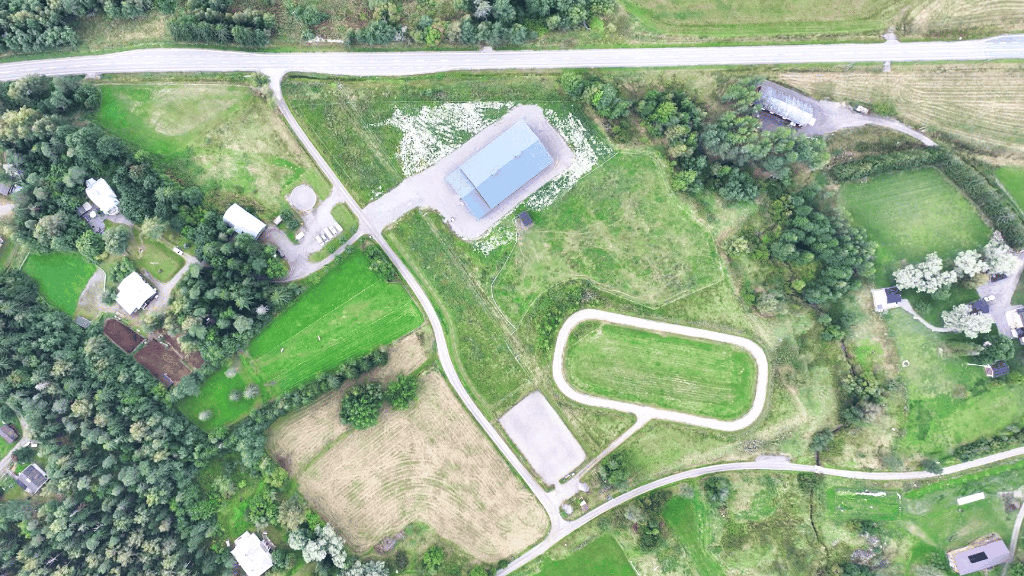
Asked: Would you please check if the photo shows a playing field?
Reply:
Yes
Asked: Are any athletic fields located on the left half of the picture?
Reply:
No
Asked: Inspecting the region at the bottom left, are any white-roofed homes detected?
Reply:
Yes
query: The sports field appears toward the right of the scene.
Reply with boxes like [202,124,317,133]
[840,167,993,299]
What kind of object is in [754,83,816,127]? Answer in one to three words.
barn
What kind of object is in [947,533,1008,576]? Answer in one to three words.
barn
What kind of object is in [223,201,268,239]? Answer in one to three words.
building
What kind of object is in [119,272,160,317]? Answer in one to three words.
house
